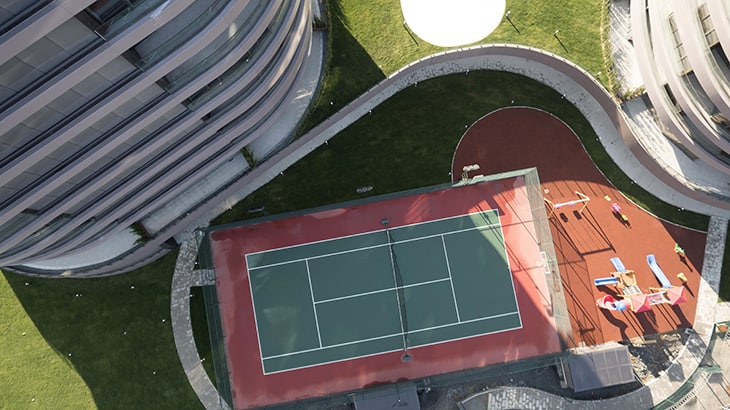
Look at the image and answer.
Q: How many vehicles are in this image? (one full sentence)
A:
The picture shows no vehicles.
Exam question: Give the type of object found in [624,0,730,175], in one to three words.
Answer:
building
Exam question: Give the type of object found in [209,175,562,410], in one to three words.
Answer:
tennis court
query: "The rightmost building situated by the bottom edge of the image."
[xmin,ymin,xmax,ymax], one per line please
[555,343,636,391]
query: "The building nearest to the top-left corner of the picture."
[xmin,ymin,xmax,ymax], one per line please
[0,0,318,270]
